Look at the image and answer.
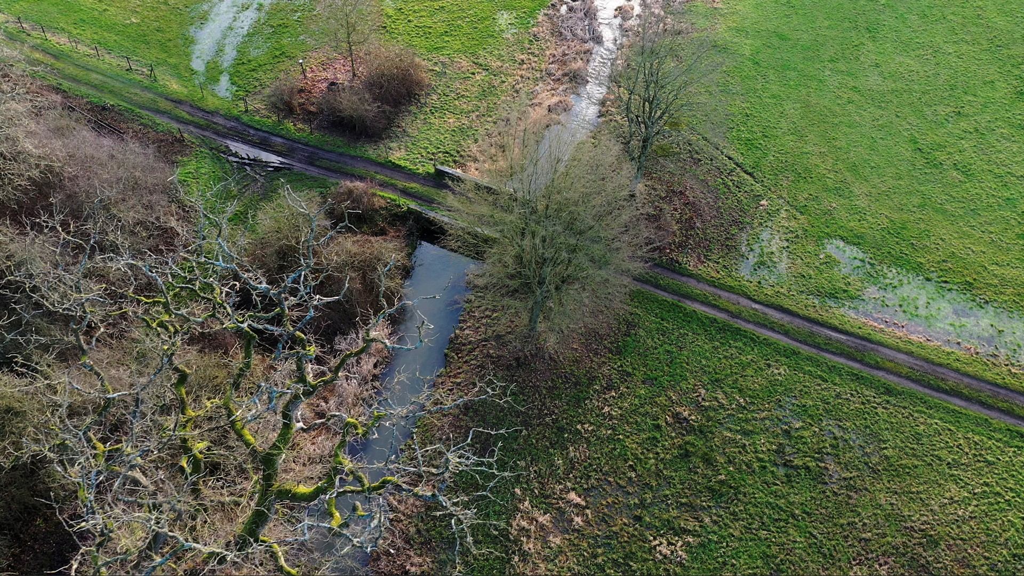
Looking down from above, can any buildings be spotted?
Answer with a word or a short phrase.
No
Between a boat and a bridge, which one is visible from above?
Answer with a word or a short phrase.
bridge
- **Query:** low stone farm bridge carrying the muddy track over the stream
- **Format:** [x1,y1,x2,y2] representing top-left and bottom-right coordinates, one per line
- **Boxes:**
[407,165,548,259]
